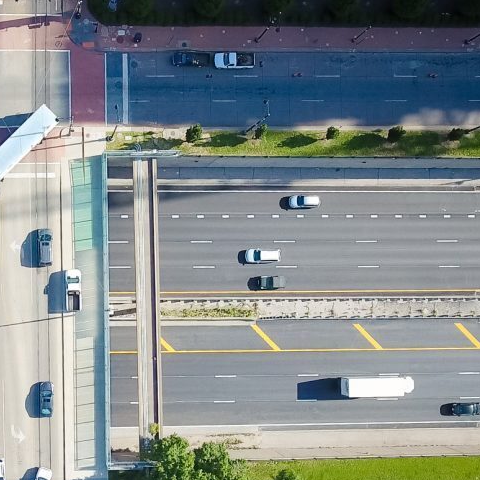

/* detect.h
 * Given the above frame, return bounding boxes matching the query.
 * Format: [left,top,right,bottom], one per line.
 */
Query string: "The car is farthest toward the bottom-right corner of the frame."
[450,401,480,417]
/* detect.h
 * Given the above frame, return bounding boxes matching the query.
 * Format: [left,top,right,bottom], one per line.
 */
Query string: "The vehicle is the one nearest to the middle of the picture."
[244,247,282,264]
